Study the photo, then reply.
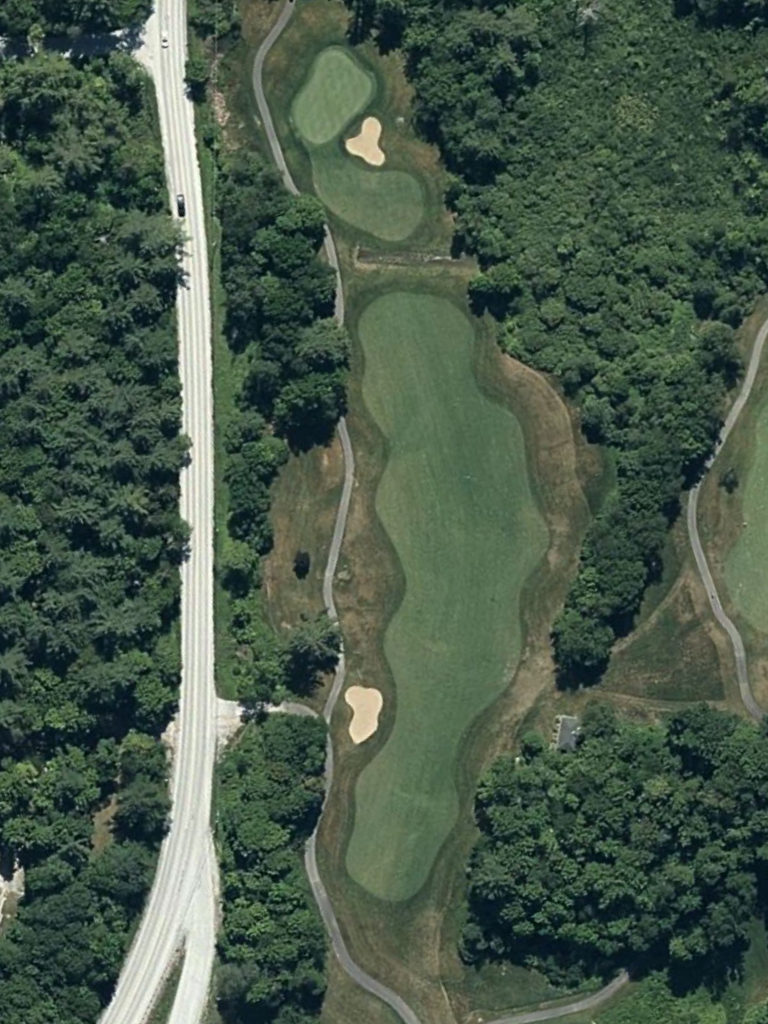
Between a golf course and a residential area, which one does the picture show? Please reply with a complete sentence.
This looks like a golf course.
